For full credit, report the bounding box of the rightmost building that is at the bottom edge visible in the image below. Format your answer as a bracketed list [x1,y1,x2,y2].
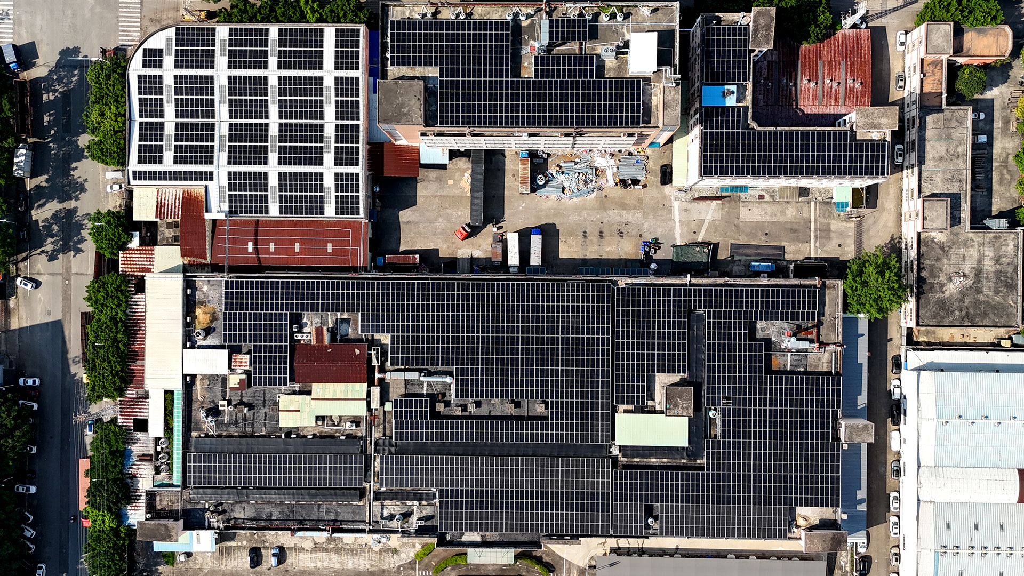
[900,351,1024,576]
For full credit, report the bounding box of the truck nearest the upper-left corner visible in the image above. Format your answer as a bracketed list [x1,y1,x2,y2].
[1,41,24,73]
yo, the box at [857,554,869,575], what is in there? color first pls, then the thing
black vehicle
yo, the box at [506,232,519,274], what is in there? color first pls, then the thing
white vehicle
